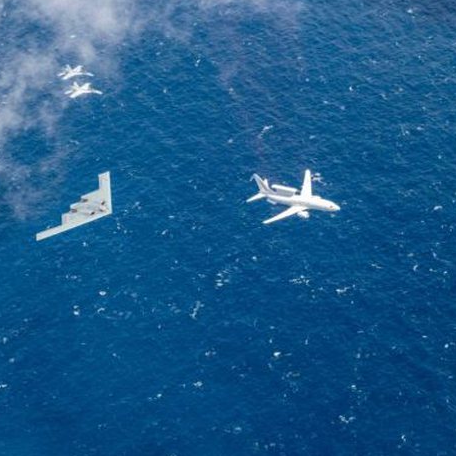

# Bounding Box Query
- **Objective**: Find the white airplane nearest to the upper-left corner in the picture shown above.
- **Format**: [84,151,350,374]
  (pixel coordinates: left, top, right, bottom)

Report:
[60,64,95,80]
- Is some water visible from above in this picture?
Yes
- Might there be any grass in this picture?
No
